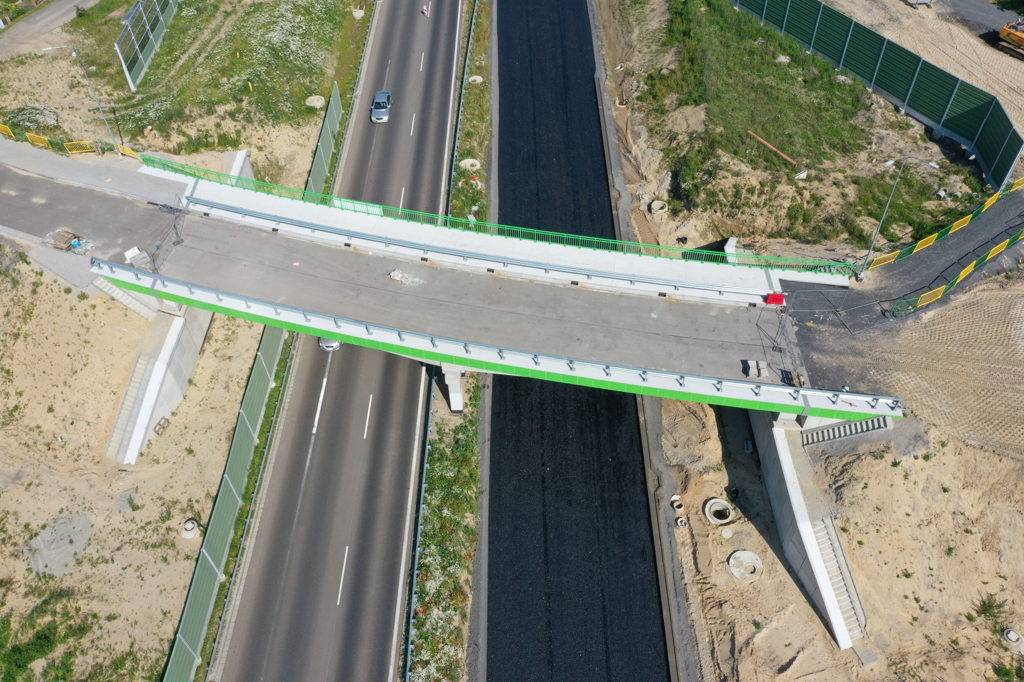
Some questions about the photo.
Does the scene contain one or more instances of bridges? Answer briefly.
Yes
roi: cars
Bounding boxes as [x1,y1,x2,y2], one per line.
[320,338,345,354]
[368,88,390,119]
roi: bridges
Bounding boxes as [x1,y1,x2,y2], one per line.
[85,154,909,461]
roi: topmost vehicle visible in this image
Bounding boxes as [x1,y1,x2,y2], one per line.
[997,17,1024,60]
